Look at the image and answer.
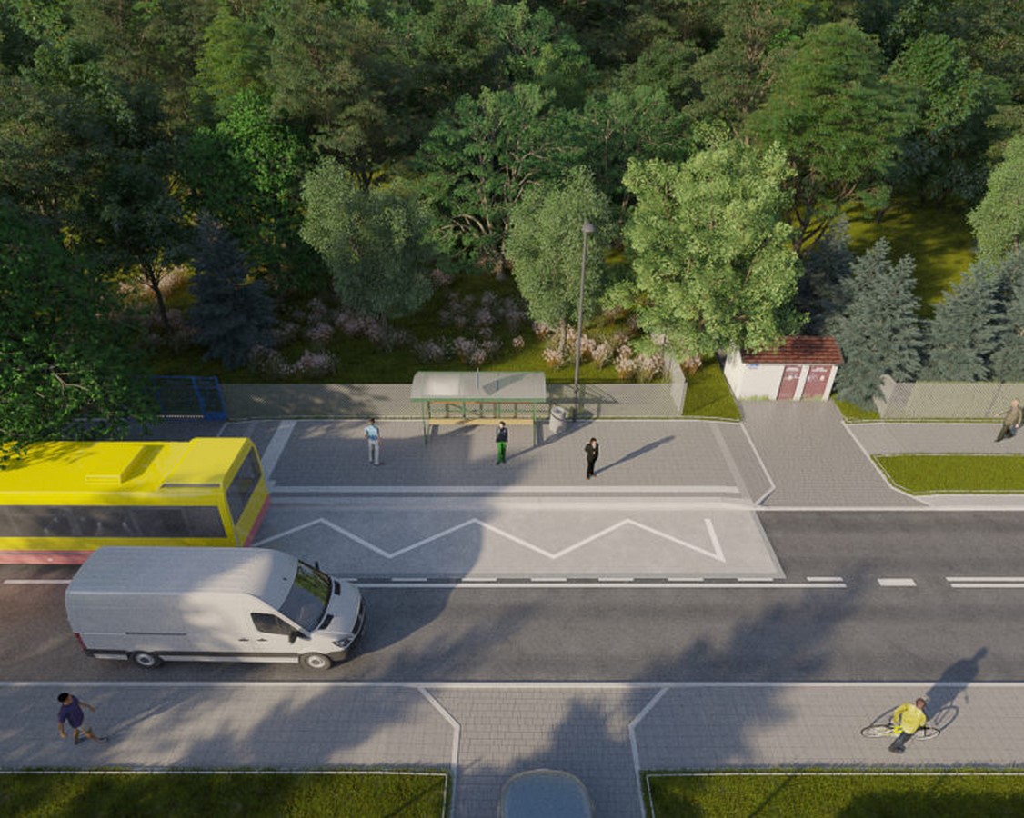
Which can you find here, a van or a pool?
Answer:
van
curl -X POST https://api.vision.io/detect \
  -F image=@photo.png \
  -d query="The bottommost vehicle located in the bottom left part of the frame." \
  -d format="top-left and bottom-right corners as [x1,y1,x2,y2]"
[69,546,370,671]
